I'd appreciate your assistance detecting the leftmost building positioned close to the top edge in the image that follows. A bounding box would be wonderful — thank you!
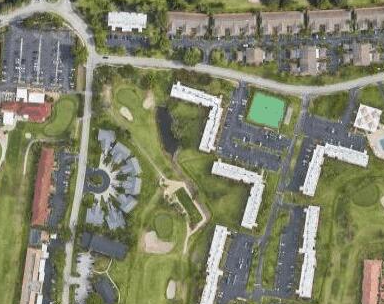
[108,11,148,27]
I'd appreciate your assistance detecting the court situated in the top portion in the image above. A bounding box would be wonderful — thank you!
[248,93,285,127]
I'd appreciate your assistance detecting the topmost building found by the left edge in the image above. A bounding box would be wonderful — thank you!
[2,87,50,129]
